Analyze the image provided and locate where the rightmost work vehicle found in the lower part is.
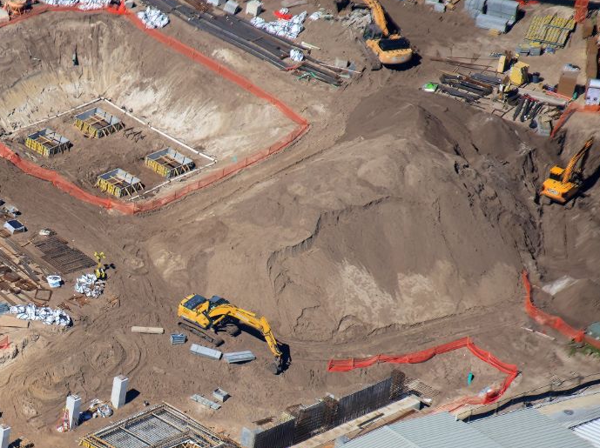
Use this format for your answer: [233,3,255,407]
[175,284,288,369]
